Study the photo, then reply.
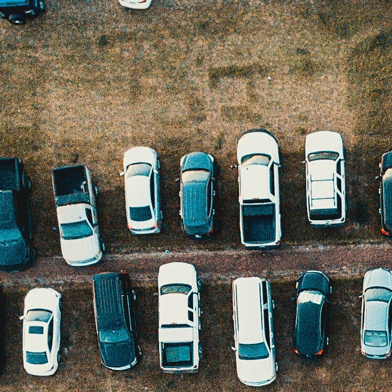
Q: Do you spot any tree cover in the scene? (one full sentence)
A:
No, there's no tree cover in this view.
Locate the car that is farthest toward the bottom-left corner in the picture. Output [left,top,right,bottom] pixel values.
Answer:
[17,288,65,375]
